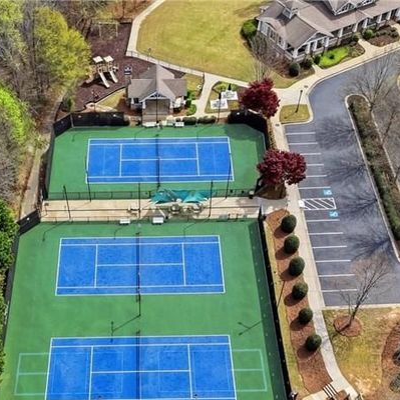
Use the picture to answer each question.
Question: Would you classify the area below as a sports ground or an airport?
sports ground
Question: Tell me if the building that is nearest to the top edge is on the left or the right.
right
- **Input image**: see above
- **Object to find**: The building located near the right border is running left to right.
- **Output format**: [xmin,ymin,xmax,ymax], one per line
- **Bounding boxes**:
[247,0,400,63]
